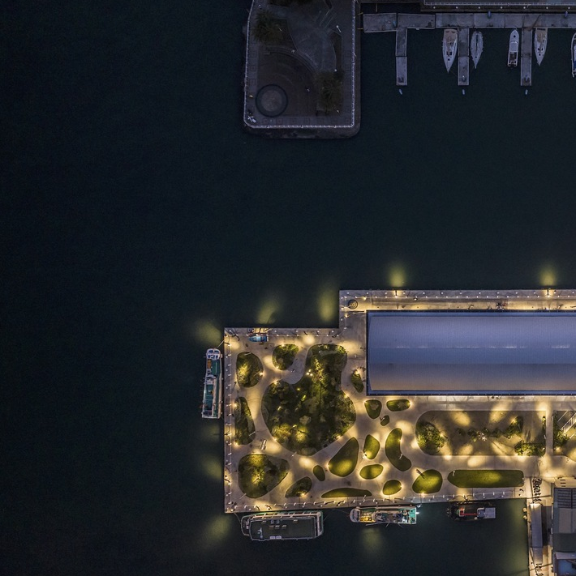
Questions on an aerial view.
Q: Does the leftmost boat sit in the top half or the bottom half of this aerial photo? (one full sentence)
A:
The leftmost boat sits in the bottom half of the picture.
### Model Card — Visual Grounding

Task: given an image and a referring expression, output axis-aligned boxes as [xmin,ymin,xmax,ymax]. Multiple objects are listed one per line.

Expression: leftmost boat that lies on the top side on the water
[443,29,456,71]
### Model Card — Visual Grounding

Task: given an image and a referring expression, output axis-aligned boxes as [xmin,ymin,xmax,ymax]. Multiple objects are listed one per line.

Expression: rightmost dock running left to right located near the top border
[522,13,566,29]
